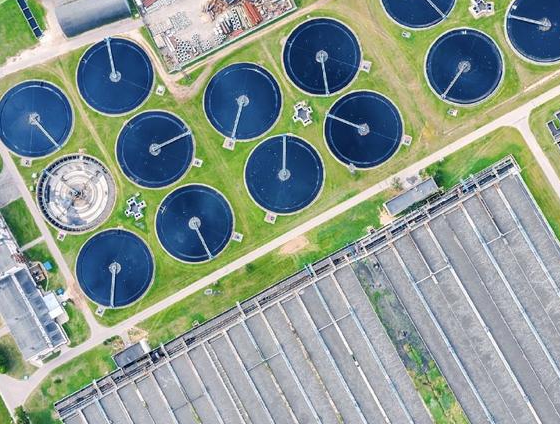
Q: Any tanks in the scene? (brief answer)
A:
Yes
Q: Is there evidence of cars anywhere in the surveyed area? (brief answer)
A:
No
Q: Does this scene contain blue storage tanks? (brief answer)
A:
Yes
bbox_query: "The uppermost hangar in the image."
[52,0,132,39]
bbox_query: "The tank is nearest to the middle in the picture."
[243,133,325,215]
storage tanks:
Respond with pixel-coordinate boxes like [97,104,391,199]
[73,228,155,310]
[202,61,282,141]
[505,0,560,64]
[380,0,456,30]
[0,78,74,158]
[34,153,116,234]
[323,89,405,170]
[424,26,505,107]
[153,183,236,264]
[243,133,325,215]
[113,108,195,190]
[281,16,363,97]
[74,35,155,116]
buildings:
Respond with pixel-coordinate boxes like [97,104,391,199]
[52,0,132,39]
[113,342,149,367]
[384,178,439,215]
[0,210,72,368]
